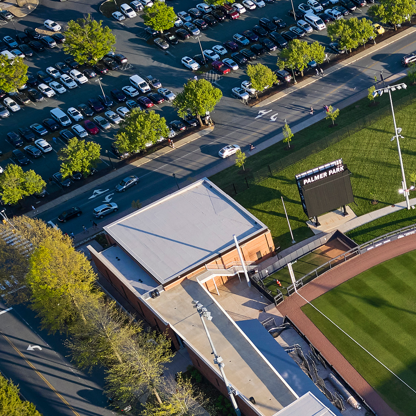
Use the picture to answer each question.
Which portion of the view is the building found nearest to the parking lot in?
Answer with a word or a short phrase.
center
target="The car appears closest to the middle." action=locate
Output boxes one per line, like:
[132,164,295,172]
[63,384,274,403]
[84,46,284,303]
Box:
[216,140,241,157]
